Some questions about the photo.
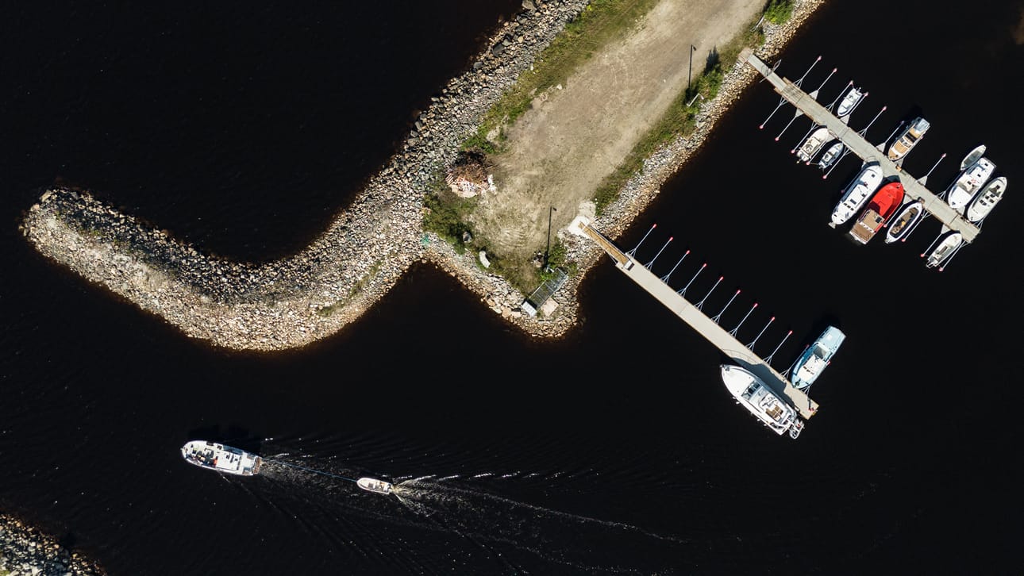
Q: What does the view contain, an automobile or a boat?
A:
boat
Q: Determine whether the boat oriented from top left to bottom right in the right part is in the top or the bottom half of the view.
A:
bottom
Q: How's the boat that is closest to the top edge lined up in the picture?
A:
on a diagonal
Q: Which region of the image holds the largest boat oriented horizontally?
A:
bottom left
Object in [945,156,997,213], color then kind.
white boat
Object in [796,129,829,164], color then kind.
white boat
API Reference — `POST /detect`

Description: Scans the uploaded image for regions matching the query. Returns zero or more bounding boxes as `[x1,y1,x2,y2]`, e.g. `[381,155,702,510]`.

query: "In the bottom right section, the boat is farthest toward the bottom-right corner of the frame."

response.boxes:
[791,418,805,438]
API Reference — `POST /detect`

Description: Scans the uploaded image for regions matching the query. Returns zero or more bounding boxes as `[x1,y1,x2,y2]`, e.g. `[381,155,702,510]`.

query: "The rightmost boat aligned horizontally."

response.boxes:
[357,478,394,495]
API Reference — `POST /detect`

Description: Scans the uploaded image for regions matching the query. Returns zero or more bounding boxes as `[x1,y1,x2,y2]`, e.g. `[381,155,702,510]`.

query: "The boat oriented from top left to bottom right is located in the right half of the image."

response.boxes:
[719,358,800,438]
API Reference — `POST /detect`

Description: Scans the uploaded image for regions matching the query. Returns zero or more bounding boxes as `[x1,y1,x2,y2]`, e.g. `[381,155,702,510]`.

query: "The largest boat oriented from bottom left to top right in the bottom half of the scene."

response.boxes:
[791,326,846,394]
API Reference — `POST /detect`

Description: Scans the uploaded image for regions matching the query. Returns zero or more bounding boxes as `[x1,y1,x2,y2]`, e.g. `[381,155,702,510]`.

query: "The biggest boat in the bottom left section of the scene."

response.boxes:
[179,441,265,476]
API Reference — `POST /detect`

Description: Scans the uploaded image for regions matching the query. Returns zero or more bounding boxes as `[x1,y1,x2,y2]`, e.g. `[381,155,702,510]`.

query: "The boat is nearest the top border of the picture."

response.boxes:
[837,86,864,116]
